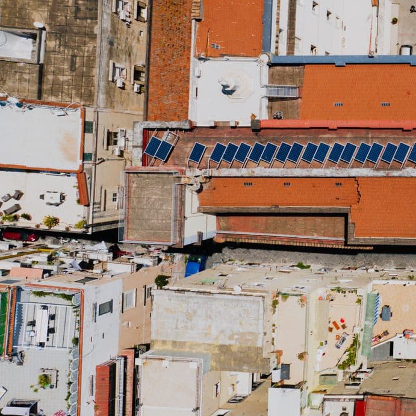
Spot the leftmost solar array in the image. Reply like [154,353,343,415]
[141,131,179,167]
